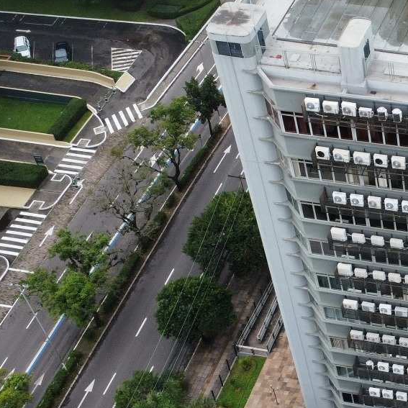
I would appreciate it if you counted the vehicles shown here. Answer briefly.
2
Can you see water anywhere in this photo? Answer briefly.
No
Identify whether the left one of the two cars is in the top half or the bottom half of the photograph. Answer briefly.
top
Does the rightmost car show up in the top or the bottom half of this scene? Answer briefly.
top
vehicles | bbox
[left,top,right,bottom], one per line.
[9,35,37,55]
[49,39,78,62]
